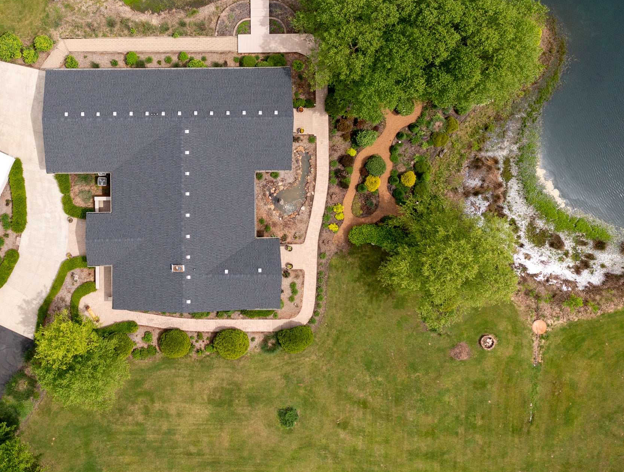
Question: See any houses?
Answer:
Yes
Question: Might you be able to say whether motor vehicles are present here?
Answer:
No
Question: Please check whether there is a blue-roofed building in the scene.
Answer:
No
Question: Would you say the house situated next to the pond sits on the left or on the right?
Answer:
left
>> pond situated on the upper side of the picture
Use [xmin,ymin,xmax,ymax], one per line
[264,144,317,222]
